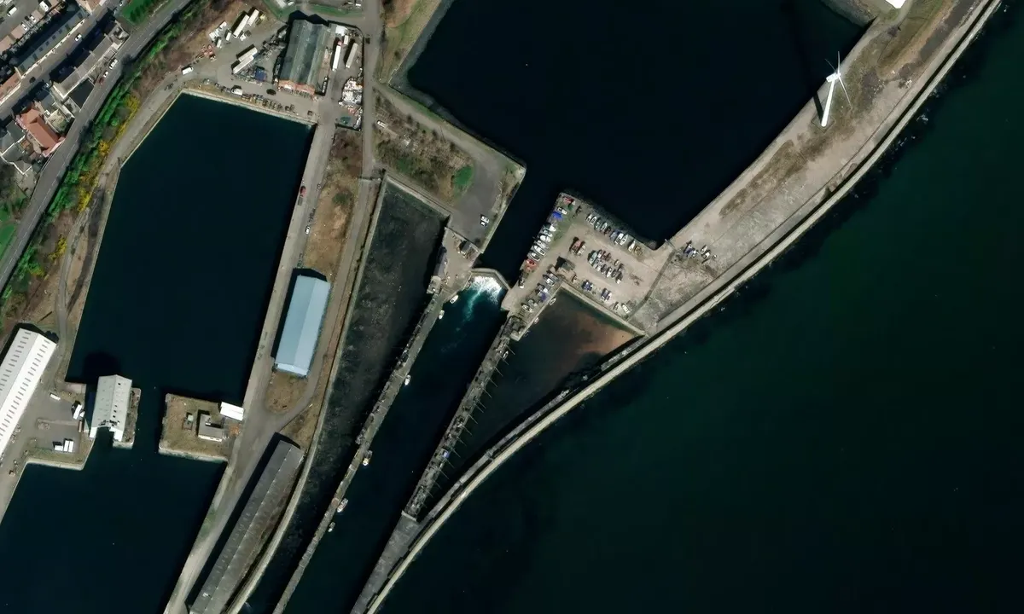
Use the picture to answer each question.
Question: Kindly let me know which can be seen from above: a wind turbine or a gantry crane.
wind turbine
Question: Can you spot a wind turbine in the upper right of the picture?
Yes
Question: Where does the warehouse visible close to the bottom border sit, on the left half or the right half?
left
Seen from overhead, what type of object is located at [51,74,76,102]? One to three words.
house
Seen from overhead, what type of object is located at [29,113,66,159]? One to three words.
building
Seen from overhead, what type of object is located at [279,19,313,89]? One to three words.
shed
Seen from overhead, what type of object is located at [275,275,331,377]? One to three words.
shed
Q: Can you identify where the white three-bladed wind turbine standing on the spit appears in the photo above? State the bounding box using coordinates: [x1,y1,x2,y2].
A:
[819,59,852,129]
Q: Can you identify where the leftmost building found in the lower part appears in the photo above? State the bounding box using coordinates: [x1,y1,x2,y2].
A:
[0,328,58,465]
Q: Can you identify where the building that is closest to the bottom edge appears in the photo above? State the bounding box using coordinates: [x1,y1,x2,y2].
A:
[187,440,305,614]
